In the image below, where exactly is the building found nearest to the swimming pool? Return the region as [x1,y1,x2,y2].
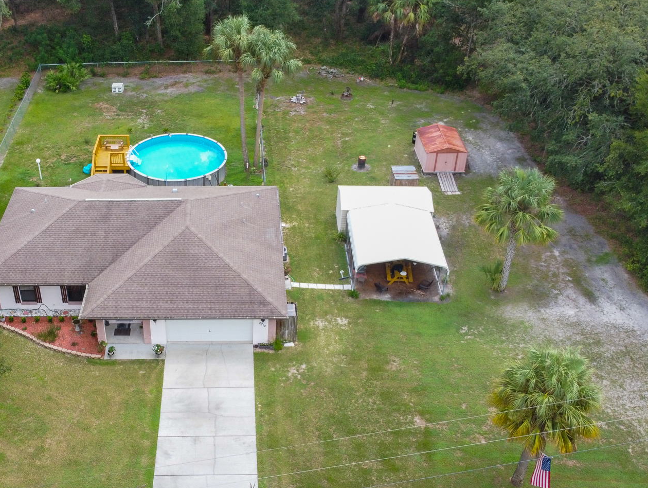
[0,173,289,342]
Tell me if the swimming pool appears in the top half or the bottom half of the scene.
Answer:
top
